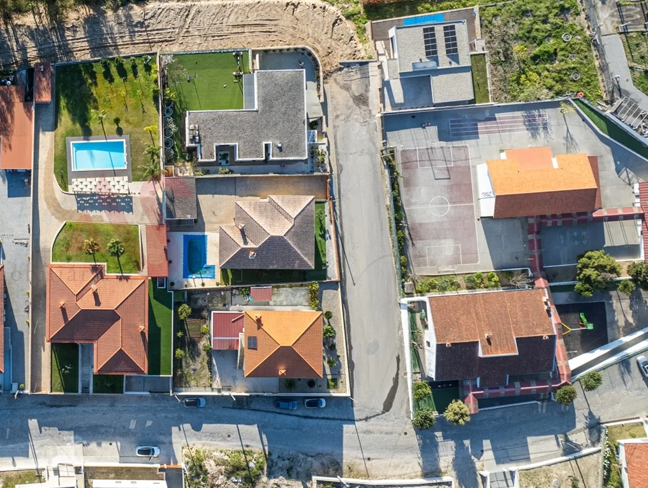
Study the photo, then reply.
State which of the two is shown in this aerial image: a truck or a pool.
pool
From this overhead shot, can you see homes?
Yes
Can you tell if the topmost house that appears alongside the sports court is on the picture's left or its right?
right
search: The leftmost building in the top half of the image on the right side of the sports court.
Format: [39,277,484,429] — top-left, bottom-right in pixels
[471,147,600,219]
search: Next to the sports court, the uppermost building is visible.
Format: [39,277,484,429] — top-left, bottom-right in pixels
[374,20,485,105]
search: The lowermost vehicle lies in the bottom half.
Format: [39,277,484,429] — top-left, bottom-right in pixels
[135,445,159,458]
